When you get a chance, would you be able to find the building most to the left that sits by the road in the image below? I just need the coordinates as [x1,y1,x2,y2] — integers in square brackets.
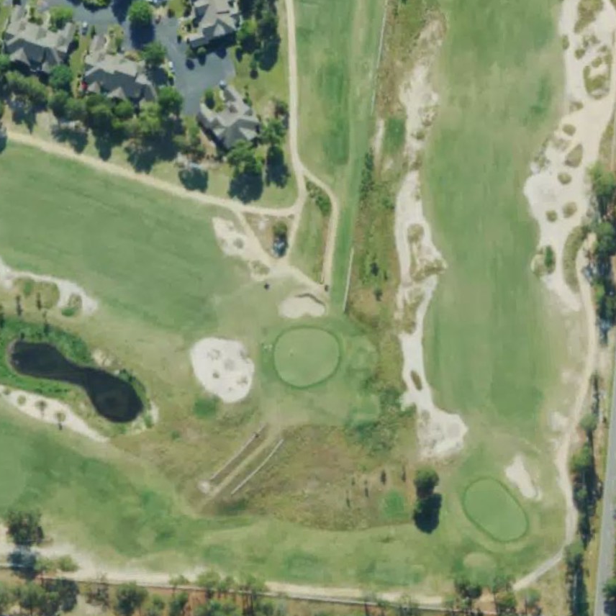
[3,7,79,75]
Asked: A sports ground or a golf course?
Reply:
golf course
